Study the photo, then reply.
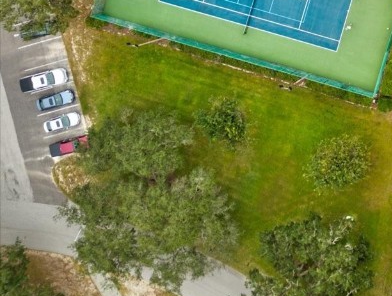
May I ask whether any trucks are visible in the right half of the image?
No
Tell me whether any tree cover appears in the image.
Yes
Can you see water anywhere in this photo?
No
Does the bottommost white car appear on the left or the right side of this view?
left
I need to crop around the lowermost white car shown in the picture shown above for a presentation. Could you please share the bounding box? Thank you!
[43,110,84,133]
